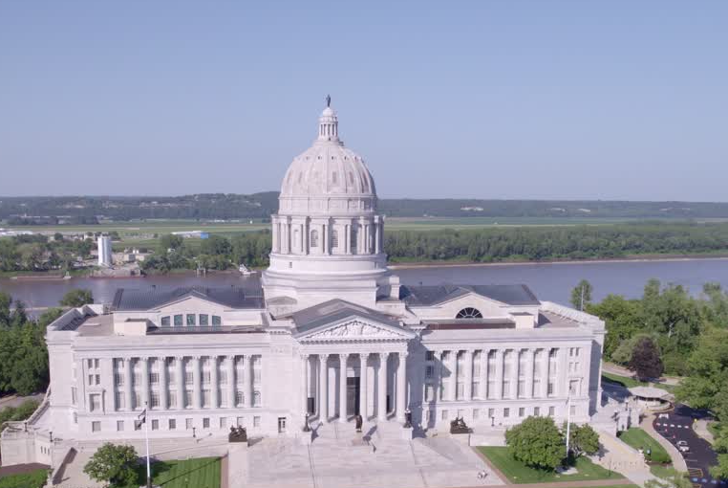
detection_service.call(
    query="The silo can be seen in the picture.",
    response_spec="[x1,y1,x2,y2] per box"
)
[98,233,112,267]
